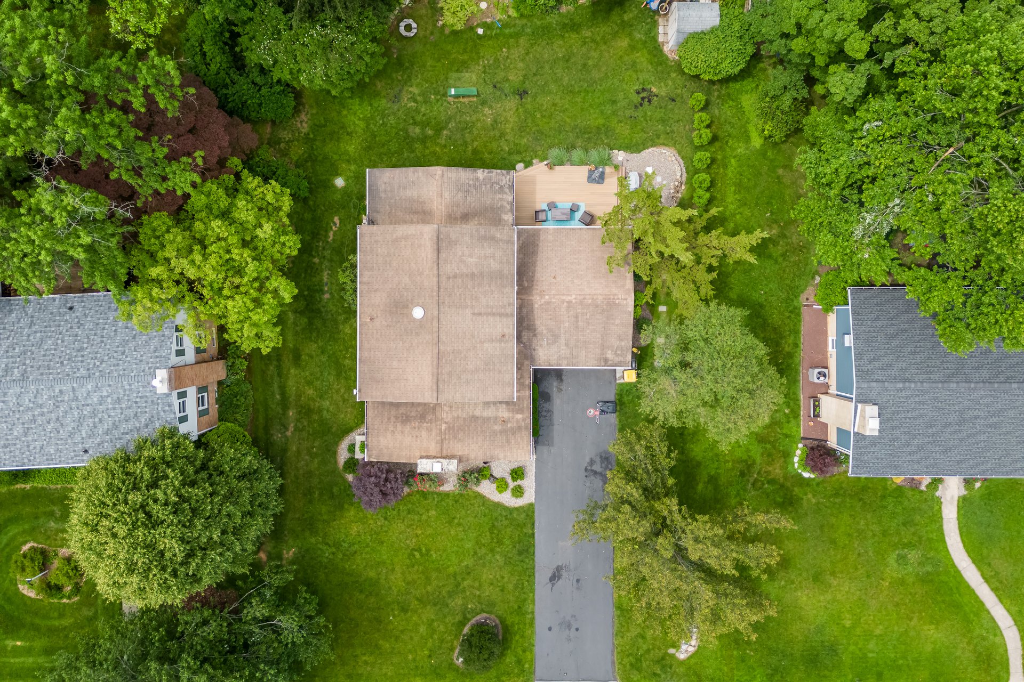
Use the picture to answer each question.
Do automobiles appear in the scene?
No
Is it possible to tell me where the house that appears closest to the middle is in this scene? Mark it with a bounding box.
[353,164,633,472]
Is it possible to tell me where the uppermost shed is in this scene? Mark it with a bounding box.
[668,6,719,52]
